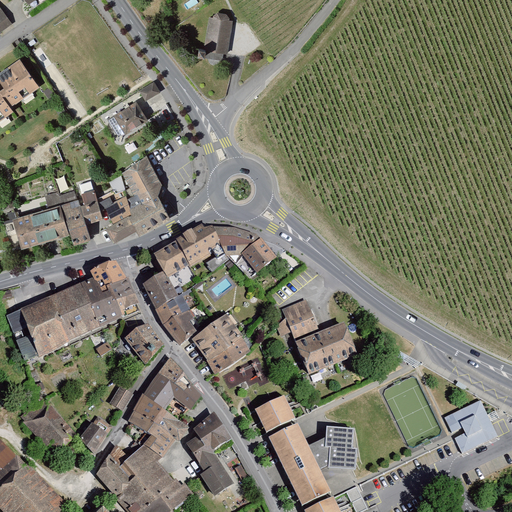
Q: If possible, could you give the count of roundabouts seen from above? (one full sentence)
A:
The count comes to 1 roundabout.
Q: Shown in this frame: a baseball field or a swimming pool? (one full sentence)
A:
Looking from above, you can make out a swimming pool.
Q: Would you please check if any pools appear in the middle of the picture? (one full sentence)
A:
Yes, there is a pool in the middle of the picture.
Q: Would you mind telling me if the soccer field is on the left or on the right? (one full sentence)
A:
The soccer field sits on the left side.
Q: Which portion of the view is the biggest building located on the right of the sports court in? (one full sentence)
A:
The biggest building located on the right of the sports court is in the bottom right part of the image.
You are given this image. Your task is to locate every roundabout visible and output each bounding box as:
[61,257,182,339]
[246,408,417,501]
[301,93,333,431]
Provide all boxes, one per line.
[200,132,285,226]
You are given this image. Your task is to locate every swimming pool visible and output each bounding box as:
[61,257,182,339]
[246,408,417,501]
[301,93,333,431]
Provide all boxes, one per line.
[206,276,236,300]
[185,0,199,10]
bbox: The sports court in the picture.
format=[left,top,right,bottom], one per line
[384,376,443,449]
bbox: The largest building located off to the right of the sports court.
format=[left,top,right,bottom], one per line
[443,400,498,454]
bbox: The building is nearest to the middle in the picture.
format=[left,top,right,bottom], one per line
[242,237,276,273]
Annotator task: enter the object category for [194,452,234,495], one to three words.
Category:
house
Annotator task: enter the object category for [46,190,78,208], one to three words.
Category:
barn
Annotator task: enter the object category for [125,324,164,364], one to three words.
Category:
house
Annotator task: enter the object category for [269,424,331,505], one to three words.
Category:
building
